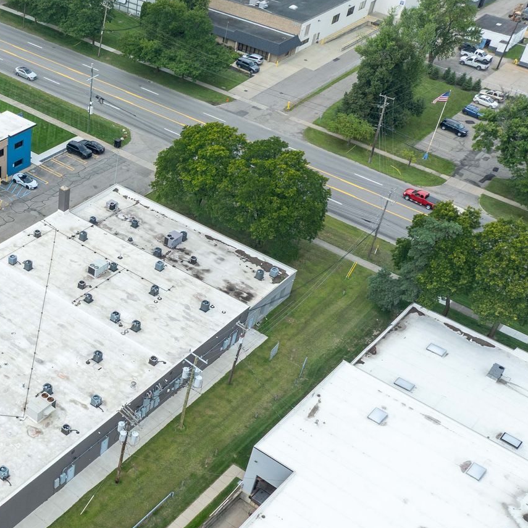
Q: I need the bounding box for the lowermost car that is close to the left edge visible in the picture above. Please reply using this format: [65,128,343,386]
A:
[12,174,38,190]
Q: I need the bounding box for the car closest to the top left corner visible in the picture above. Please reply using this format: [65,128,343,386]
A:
[14,66,38,80]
